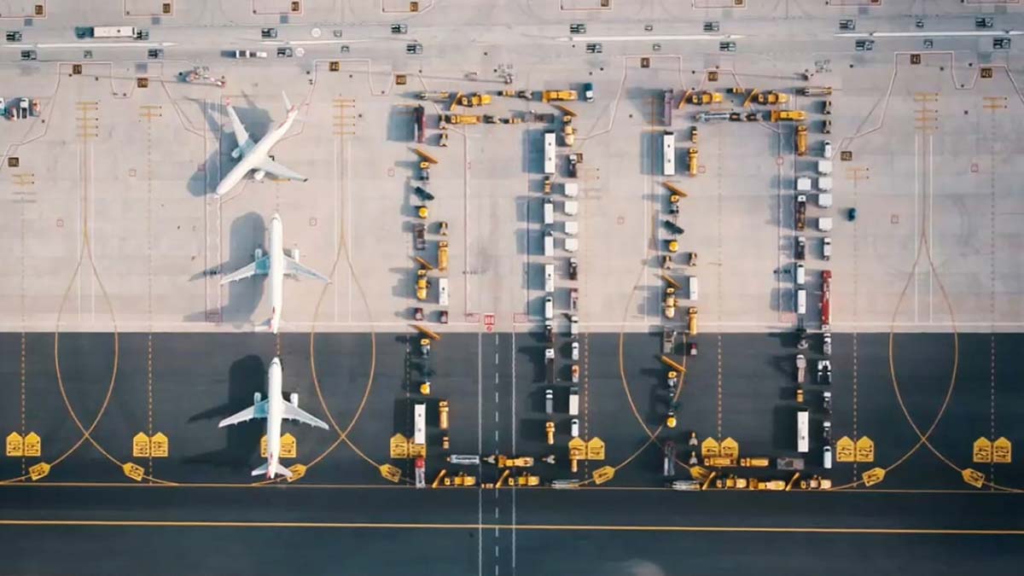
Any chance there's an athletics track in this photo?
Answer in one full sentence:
No, there's no athletics track here.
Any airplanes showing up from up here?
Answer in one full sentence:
Yes, the image includes an airplane.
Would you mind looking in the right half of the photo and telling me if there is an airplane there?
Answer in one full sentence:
No, I can find no airplane in the right half of the photo.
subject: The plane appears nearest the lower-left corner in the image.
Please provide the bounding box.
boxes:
[218,357,328,480]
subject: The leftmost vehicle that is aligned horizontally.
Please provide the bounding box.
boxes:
[94,27,141,39]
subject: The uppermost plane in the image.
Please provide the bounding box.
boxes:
[216,96,306,198]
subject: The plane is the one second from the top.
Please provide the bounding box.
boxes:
[218,213,329,336]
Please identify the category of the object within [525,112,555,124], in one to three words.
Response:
vehicle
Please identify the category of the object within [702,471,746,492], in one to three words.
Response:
truck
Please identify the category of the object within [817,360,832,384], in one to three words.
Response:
work vehicle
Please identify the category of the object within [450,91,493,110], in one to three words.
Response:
vehicle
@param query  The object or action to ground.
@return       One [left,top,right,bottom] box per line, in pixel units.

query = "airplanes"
[218,213,329,336]
[218,357,328,480]
[216,96,306,198]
